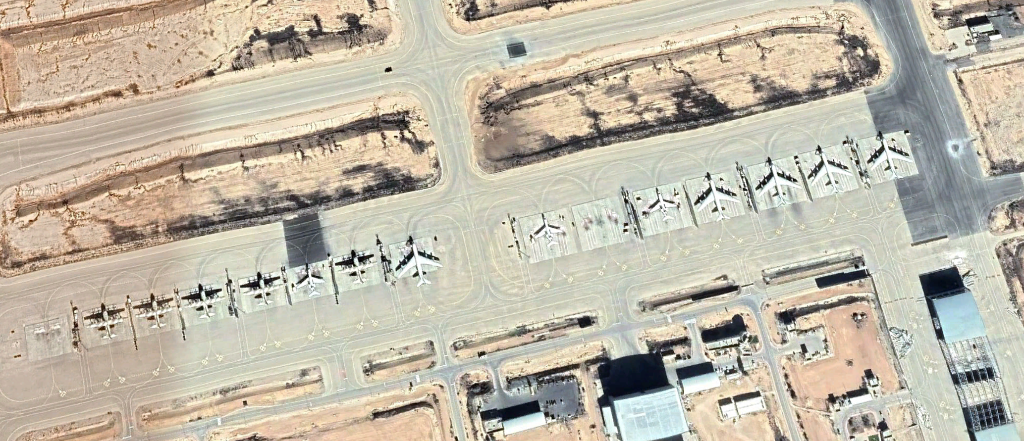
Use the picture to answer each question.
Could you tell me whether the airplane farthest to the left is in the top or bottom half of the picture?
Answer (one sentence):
Seen from above, the airplane farthest to the left lies in the bottom half of the view.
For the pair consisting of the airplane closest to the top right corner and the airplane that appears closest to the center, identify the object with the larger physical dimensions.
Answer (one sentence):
The airplane closest to the top right corner is larger than the airplane that appears closest to the center.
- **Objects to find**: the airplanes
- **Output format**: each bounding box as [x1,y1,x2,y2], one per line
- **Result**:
[137,301,177,328]
[814,152,851,194]
[535,220,563,247]
[700,180,739,222]
[651,193,677,221]
[400,244,443,287]
[339,257,378,284]
[244,280,284,306]
[185,291,226,319]
[87,311,128,340]
[761,163,800,206]
[876,139,912,181]
[297,270,326,296]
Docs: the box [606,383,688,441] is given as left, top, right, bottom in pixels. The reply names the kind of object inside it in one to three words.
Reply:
hangar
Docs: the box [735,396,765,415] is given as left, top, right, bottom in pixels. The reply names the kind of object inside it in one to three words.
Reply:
shed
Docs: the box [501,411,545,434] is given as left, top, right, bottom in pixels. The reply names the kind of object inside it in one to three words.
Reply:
hangar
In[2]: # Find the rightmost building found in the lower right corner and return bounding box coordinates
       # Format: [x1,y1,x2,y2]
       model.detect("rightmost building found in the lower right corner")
[921,288,1019,441]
